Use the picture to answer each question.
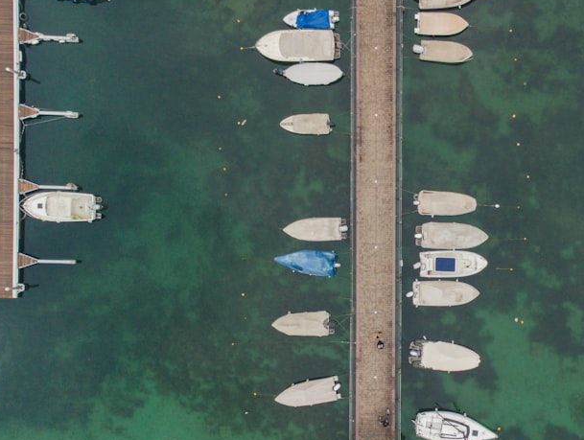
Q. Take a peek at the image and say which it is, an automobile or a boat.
boat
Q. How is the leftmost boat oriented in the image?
horizontally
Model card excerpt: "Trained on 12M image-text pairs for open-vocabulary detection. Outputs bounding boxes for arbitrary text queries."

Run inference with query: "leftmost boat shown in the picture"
[19,189,108,224]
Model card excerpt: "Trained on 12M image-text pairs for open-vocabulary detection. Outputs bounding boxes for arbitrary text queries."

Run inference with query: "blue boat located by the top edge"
[283,6,339,29]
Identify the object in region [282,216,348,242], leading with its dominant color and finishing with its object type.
white boat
